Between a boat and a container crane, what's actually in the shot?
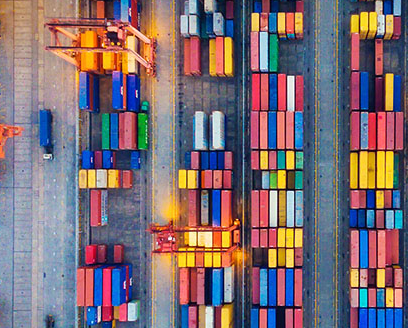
container crane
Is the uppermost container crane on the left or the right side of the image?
left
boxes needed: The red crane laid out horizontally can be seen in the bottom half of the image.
[149,217,240,258]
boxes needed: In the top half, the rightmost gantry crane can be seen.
[43,19,153,73]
